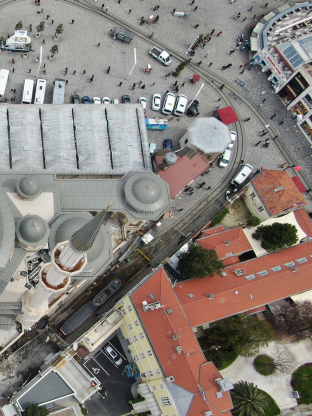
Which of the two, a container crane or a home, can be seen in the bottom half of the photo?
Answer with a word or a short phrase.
home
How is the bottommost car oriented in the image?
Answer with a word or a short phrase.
on a diagonal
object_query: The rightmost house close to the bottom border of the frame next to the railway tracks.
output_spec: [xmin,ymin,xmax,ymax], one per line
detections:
[113,265,238,416]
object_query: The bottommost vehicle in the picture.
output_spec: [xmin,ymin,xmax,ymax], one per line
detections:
[103,343,124,366]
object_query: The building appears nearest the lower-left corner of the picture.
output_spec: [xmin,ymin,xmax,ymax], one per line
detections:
[0,371,75,416]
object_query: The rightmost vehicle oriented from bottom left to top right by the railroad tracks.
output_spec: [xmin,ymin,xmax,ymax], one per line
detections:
[231,158,260,187]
